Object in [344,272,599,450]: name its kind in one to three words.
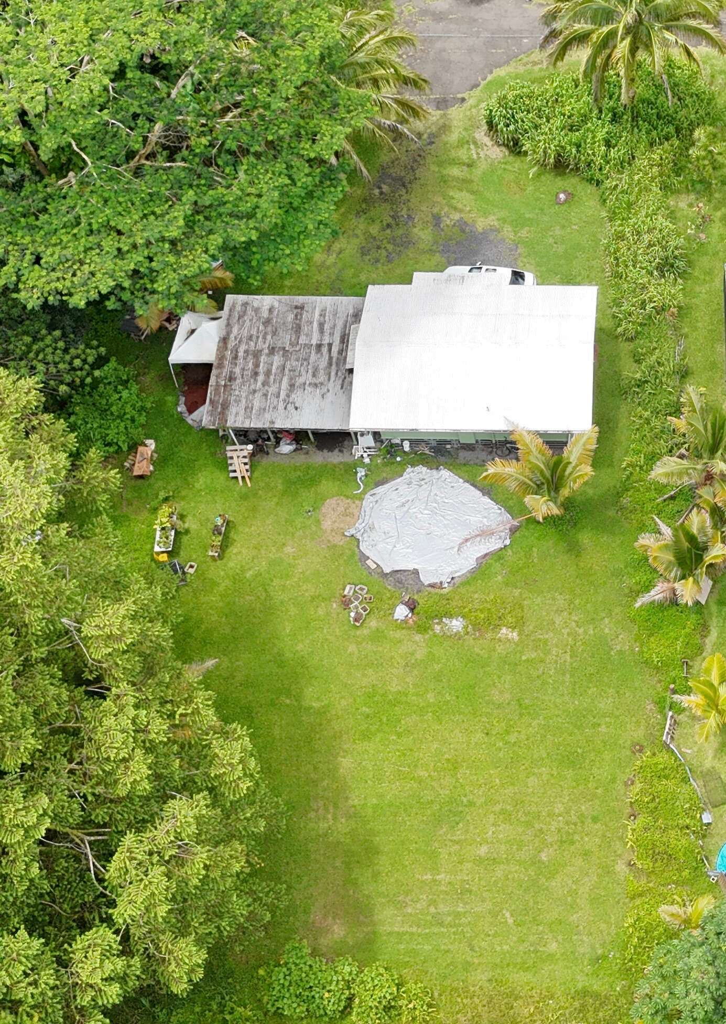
house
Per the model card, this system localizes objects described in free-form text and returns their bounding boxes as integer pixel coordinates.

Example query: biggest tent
[168,310,222,387]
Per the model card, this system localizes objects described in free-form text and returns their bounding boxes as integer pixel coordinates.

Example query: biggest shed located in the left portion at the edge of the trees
[202,294,365,443]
